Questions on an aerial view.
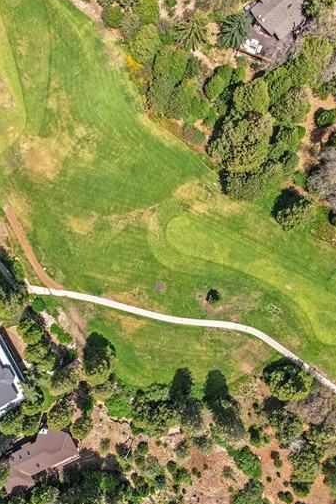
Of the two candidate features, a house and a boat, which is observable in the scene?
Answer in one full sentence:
Looking from above, you can make out a house.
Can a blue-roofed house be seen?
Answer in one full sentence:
No, the picture doesn't show any blue-roofed house.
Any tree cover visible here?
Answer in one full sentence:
Yes, there's tree cover in this view.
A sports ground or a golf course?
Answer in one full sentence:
This image shows a golf course.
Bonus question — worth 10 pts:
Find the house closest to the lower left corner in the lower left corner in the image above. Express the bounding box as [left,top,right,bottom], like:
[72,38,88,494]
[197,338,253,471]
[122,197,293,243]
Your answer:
[4,428,81,494]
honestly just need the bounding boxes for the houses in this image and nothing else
[240,0,308,63]
[0,333,26,411]
[4,428,81,494]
